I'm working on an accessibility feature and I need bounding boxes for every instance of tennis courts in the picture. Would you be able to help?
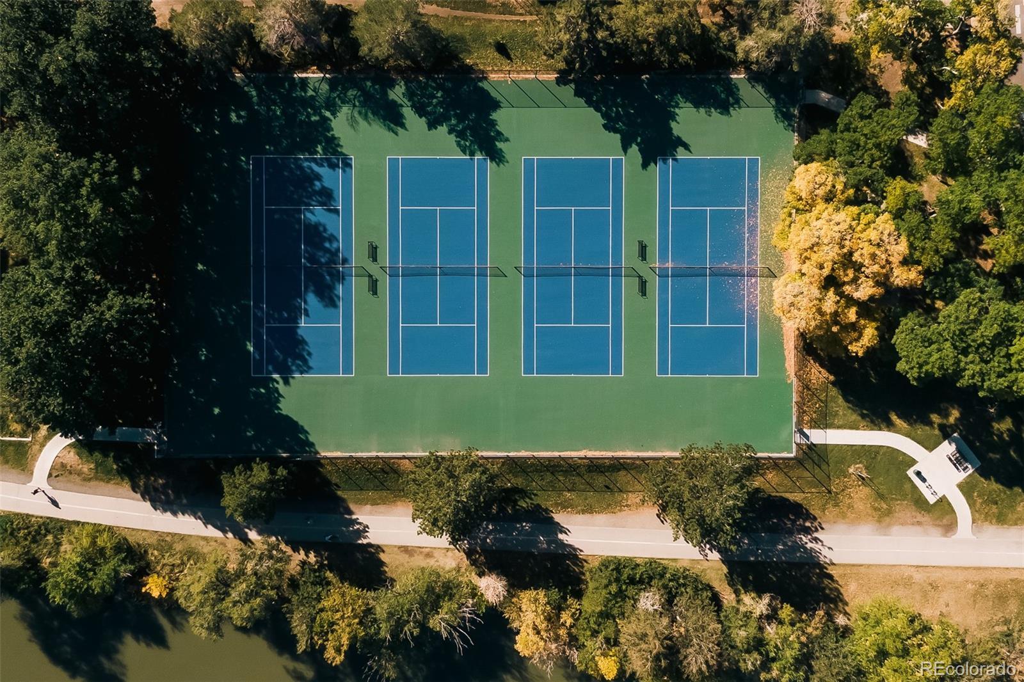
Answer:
[658,157,759,376]
[251,156,353,376]
[523,157,623,376]
[388,157,489,376]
